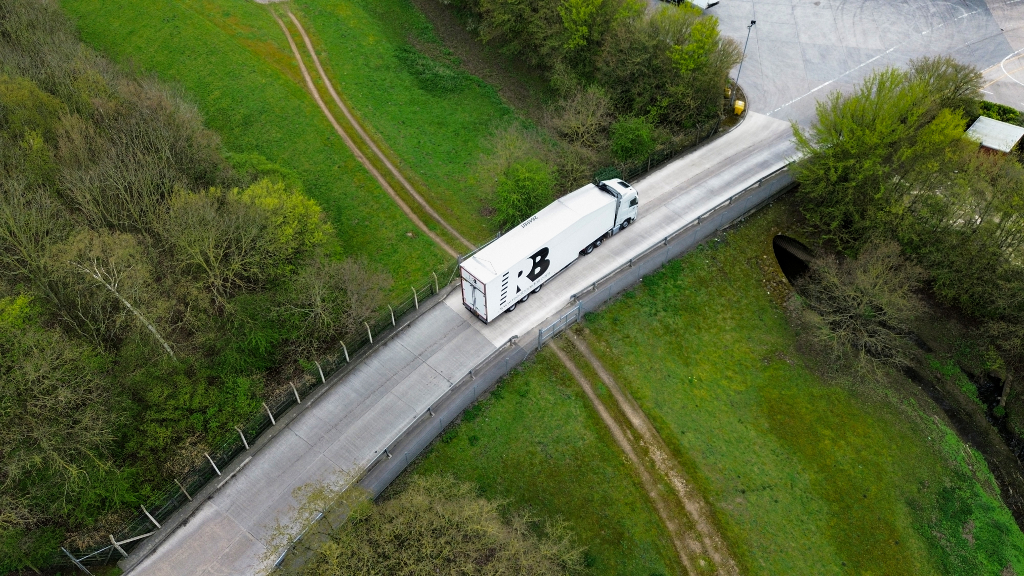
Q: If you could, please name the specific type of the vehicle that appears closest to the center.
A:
truck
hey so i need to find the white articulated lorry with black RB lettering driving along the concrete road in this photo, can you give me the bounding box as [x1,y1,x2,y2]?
[460,179,640,325]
